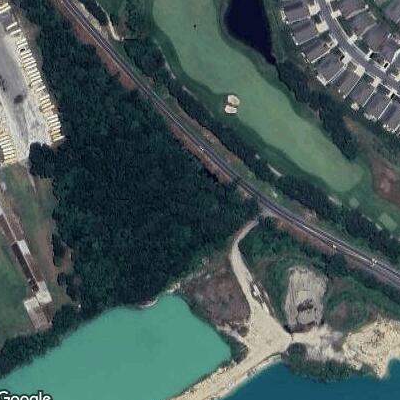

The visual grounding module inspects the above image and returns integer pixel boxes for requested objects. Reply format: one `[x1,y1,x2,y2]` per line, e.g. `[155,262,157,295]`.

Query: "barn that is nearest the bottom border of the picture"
[25,298,48,327]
